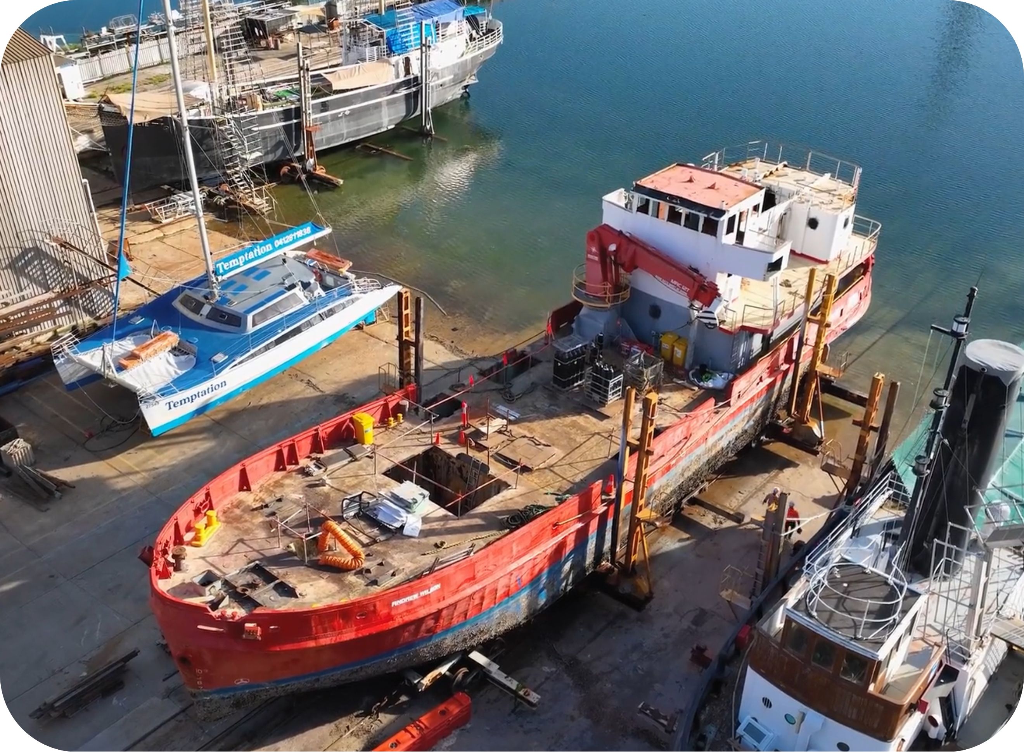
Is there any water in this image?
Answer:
Yes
